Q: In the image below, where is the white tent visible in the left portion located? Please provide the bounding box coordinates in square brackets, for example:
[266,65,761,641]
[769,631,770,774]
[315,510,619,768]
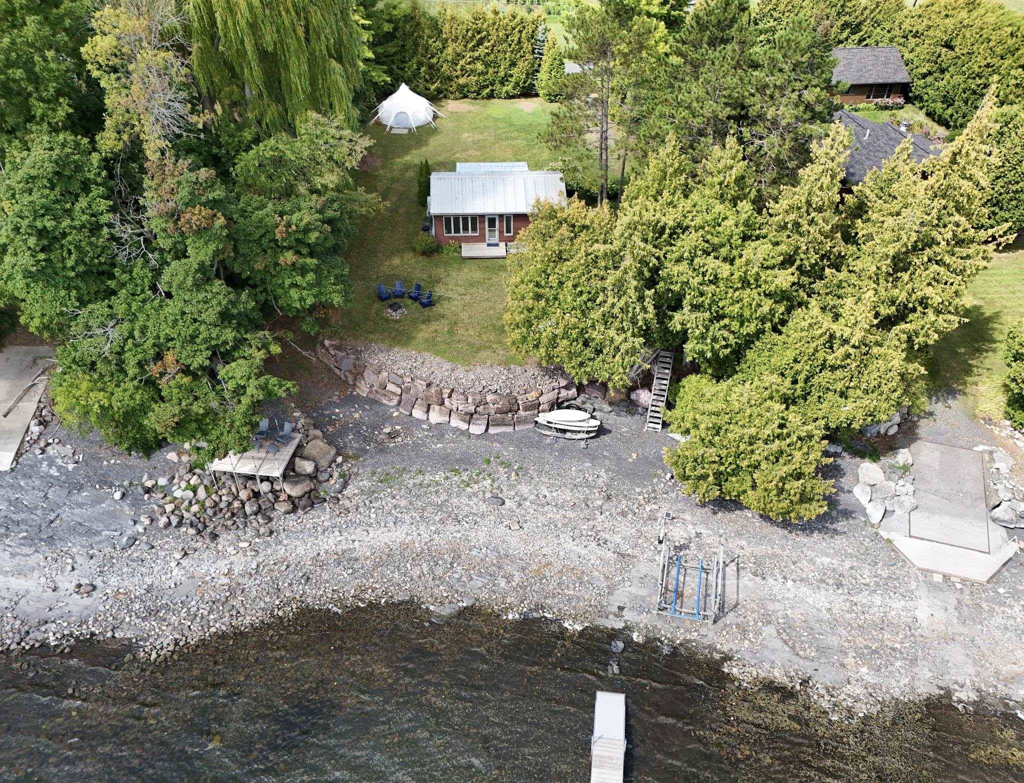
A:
[364,82,447,138]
